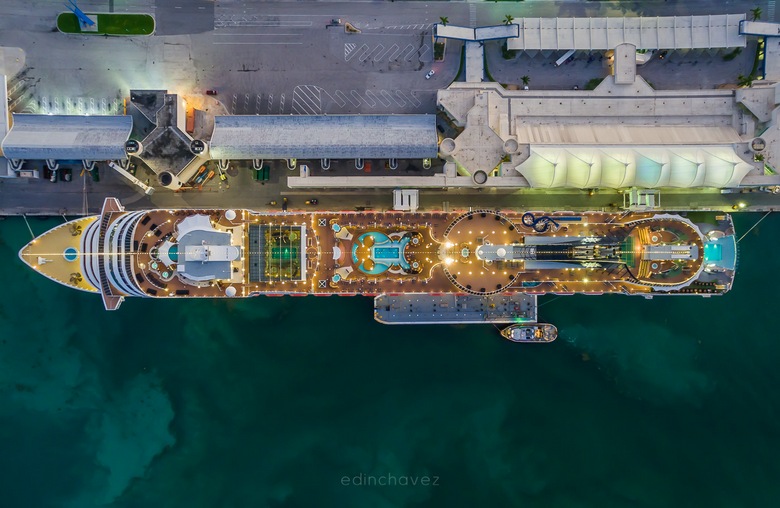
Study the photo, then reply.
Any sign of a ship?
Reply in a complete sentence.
Yes, you can see a ship in this photo.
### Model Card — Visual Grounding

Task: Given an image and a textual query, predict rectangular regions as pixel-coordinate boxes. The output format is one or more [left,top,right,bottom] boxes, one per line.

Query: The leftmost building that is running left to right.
[3,112,138,171]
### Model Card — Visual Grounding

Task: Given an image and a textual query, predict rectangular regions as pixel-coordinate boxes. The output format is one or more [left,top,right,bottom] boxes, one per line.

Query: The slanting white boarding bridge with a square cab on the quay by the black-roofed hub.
[108,161,155,196]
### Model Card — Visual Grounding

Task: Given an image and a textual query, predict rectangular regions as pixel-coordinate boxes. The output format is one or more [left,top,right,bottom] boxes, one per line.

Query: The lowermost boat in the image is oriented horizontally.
[500,323,558,343]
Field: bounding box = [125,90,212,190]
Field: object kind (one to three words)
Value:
building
